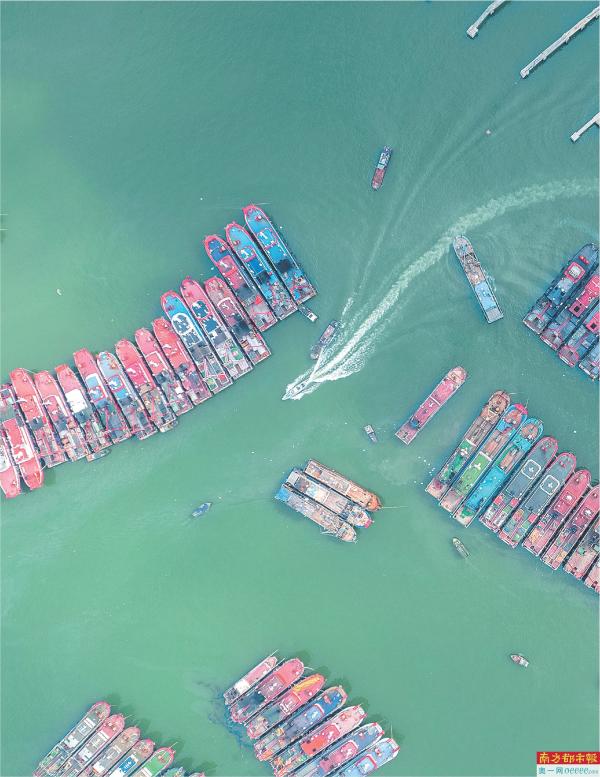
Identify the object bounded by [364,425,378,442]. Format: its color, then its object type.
white boat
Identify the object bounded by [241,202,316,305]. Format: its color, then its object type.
blue boat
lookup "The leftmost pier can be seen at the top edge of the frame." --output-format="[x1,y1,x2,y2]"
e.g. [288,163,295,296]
[466,0,508,39]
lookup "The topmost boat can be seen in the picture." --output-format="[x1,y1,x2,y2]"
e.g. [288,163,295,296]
[369,145,393,190]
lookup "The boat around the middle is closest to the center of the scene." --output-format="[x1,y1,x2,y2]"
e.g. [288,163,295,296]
[284,381,307,398]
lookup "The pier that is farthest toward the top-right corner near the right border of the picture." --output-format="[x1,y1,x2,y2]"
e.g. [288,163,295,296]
[517,8,600,79]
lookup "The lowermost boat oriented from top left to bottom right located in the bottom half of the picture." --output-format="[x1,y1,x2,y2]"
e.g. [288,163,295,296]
[511,653,529,668]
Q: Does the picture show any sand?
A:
No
